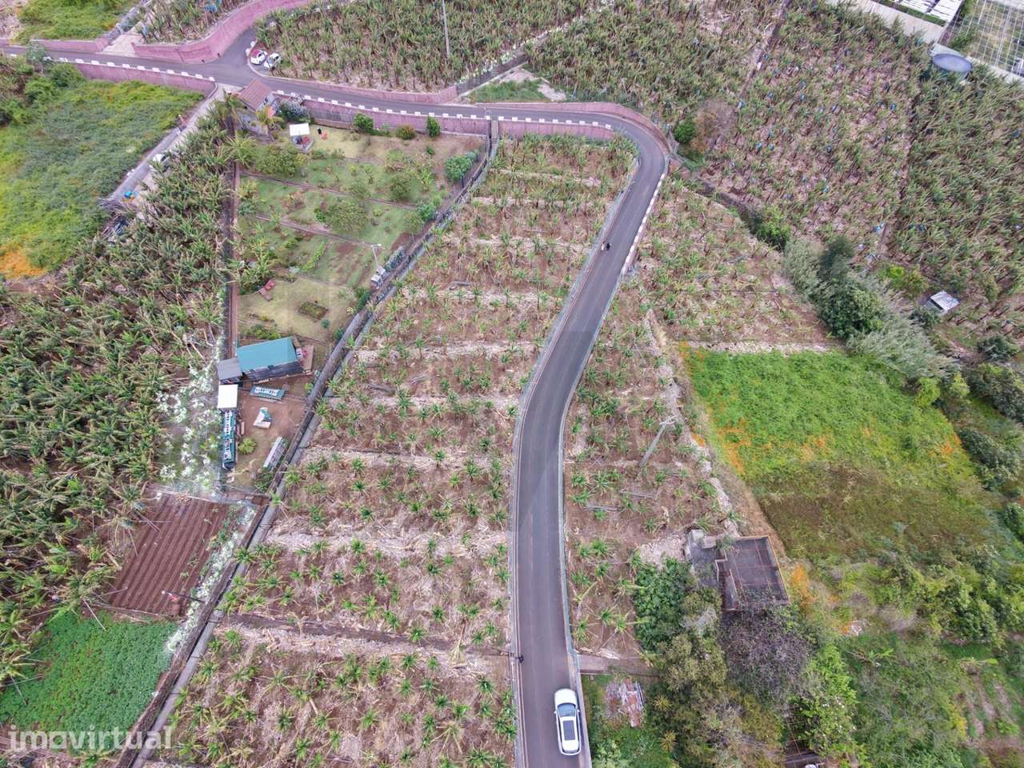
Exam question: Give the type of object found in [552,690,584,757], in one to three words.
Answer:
car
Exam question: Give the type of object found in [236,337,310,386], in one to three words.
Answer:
shed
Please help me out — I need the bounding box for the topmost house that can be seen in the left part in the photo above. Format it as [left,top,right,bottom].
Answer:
[241,79,279,128]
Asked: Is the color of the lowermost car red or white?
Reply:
white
